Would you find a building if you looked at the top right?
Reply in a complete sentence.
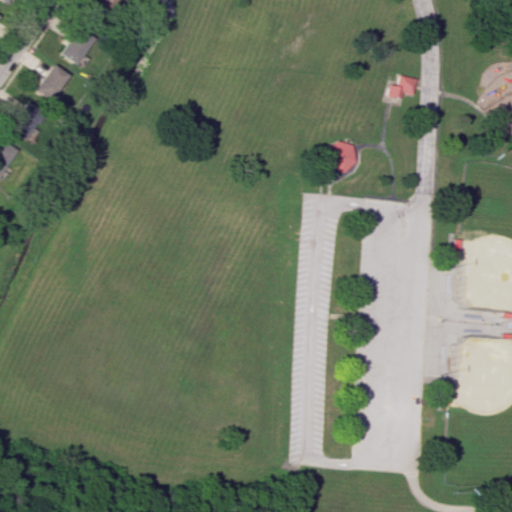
Yes, at the top right there is a building.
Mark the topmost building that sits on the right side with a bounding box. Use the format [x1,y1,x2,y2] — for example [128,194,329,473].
[386,74,420,98]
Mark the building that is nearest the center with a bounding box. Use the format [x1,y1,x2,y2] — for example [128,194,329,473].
[328,141,358,175]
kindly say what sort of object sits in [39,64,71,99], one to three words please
house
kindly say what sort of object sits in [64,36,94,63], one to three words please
house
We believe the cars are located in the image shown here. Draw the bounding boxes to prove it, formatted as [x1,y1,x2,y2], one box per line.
[9,62,17,72]
[36,66,45,74]
[42,62,51,70]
